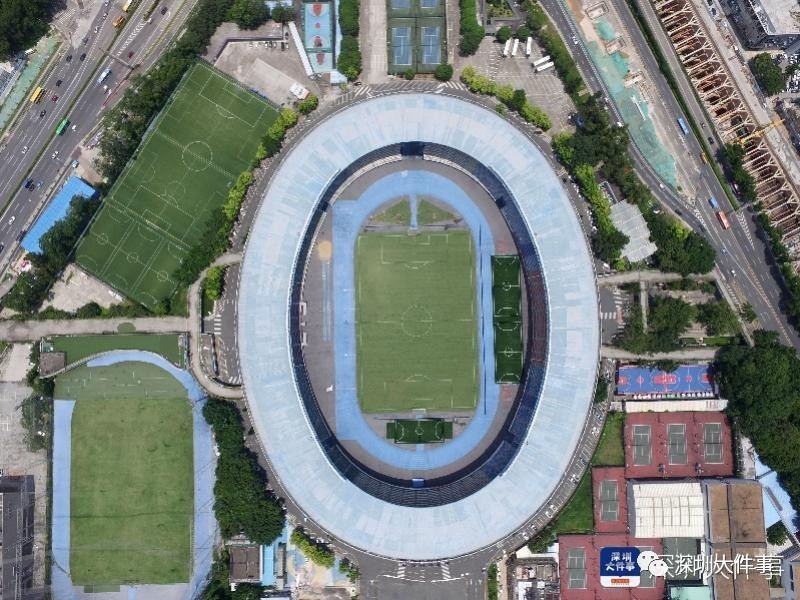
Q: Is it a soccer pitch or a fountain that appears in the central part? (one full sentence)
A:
The feature located in the central part is a soccer pitch.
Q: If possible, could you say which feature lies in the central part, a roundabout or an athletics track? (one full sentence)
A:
You can see an athletics track in the central part.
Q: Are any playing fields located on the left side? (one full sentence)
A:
Yes, the scene does show a playing field on the left side.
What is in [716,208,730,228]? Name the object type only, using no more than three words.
vehicle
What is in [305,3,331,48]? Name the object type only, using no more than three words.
basketball court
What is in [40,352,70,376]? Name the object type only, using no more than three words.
building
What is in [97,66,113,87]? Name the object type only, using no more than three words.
vehicle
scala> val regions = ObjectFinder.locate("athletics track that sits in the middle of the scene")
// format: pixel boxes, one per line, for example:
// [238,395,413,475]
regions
[333,170,497,470]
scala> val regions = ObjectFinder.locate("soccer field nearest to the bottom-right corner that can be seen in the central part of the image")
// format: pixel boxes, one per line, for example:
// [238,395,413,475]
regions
[356,230,478,413]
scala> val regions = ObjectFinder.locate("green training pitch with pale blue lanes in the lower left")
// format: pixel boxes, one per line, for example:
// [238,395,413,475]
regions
[52,350,218,600]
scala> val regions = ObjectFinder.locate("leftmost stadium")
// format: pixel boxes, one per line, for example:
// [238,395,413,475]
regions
[240,94,598,561]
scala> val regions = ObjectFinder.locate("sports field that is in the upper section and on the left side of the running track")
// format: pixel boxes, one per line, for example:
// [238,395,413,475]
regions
[77,58,282,308]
